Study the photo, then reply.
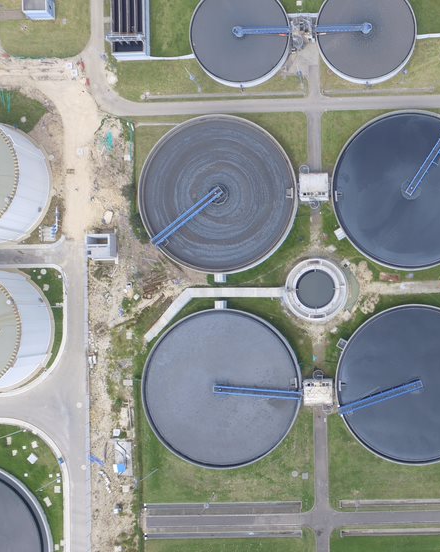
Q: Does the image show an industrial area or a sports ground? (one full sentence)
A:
What you see here is an industrial area.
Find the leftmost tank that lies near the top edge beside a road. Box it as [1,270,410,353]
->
[188,0,292,88]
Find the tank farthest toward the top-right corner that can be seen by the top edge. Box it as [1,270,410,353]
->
[315,0,418,85]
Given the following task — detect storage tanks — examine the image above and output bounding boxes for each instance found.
[141,308,302,468]
[0,125,54,245]
[285,258,347,320]
[188,0,292,88]
[331,110,440,270]
[137,113,299,274]
[336,305,440,465]
[315,0,418,85]
[0,268,55,388]
[0,468,54,552]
